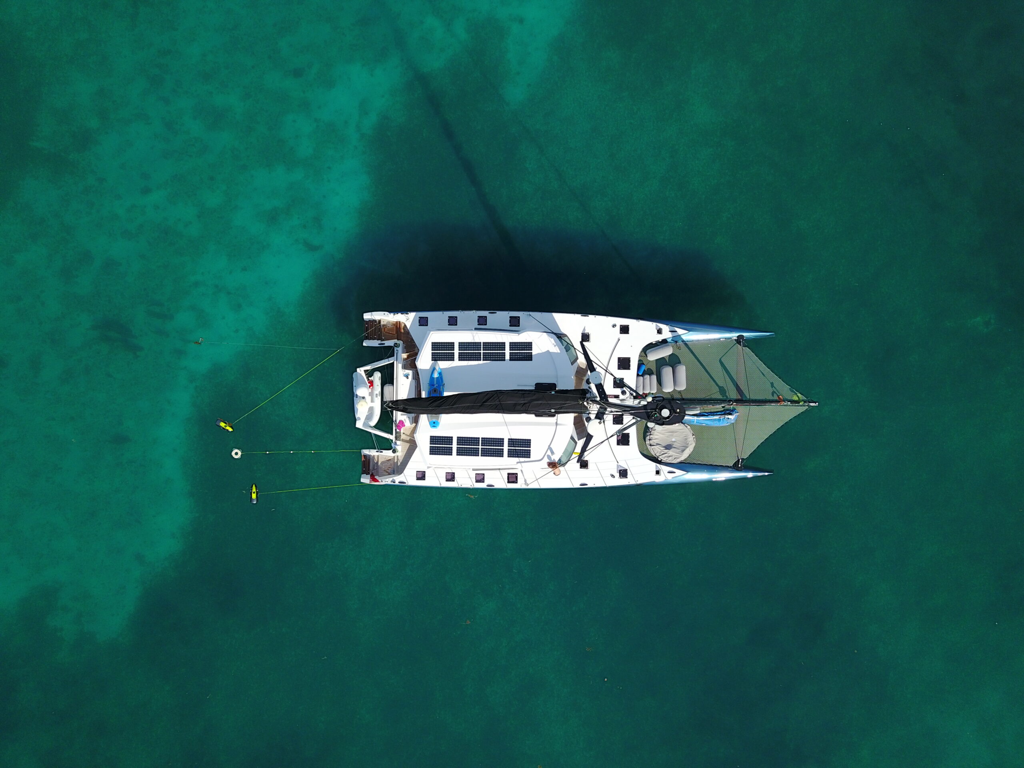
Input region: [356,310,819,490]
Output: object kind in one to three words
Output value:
boat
